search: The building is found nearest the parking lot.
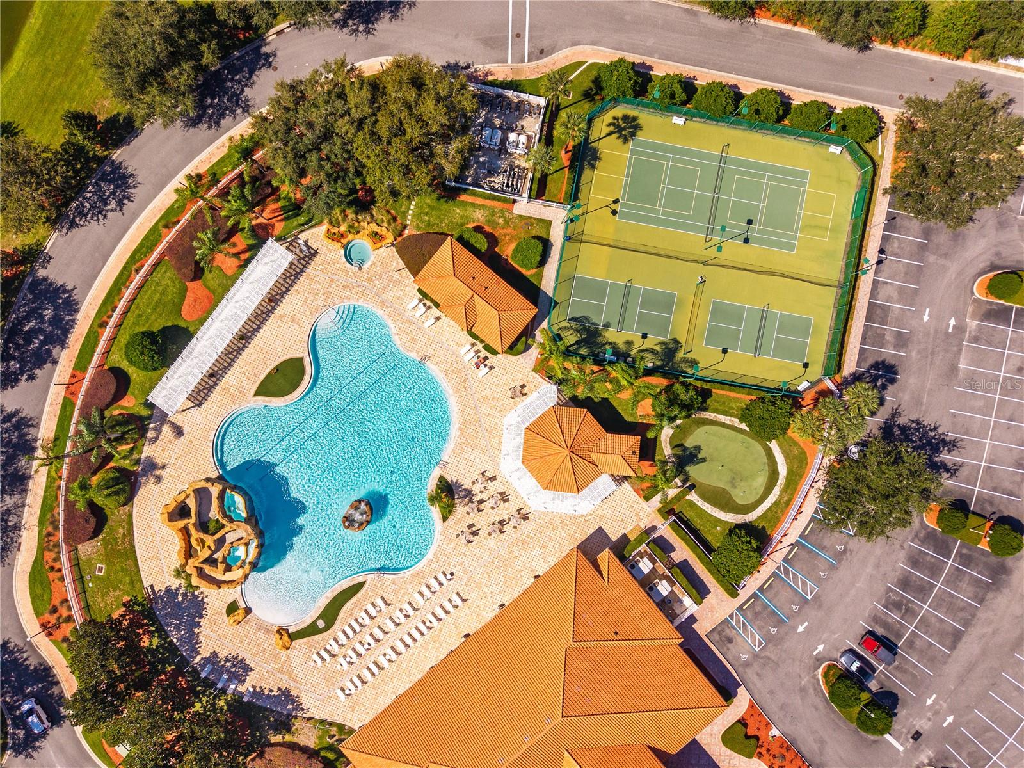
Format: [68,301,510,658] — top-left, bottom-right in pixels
[338,548,729,768]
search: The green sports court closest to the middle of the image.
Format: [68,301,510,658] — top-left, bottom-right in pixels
[567,275,677,339]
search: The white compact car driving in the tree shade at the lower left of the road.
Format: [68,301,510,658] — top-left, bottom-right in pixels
[23,697,50,734]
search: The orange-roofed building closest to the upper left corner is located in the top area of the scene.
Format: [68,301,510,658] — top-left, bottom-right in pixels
[413,236,539,354]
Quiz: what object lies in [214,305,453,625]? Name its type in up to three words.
swimming pool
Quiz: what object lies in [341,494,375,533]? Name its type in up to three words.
fountain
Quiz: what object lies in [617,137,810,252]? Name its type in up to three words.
tennis court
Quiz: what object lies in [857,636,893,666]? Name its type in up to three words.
car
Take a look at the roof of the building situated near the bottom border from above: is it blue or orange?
orange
